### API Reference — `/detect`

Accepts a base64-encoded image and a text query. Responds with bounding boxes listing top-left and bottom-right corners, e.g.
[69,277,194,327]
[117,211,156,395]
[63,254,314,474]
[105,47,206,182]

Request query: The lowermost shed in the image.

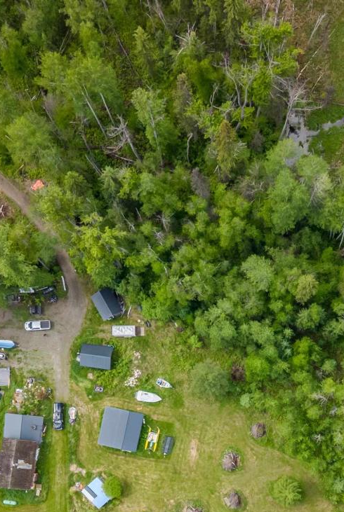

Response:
[82,477,113,507]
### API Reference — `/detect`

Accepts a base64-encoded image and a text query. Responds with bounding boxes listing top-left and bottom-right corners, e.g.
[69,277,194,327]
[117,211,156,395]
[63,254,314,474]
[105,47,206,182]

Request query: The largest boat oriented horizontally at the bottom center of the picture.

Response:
[134,389,160,402]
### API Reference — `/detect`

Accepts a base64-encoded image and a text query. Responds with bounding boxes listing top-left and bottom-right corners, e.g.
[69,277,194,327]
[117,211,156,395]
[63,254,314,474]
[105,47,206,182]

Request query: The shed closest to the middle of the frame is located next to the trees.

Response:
[91,288,124,321]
